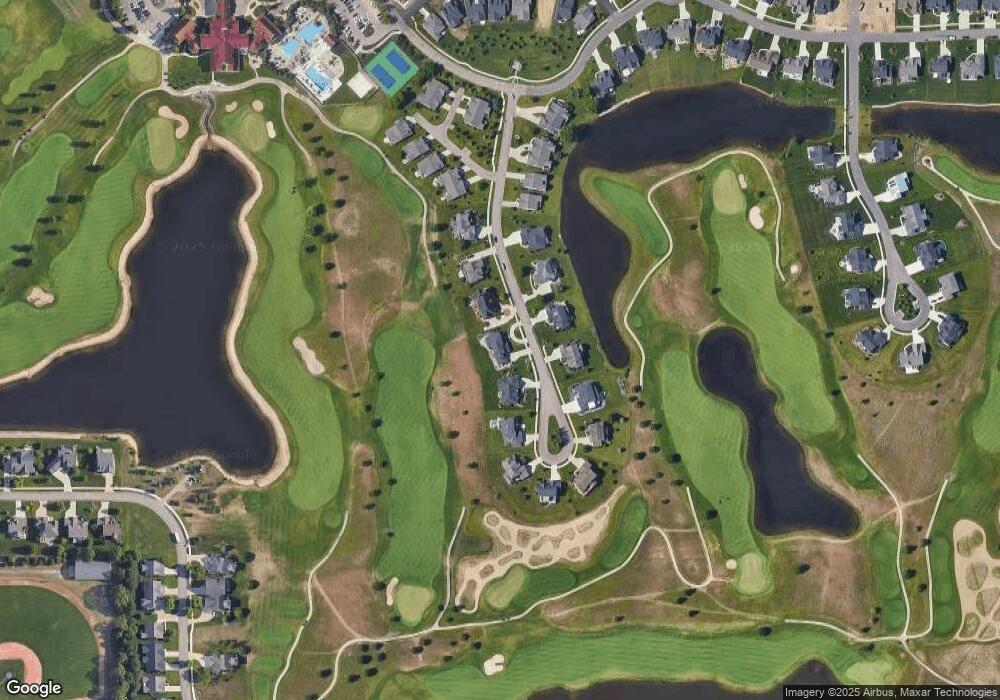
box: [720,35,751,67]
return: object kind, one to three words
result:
house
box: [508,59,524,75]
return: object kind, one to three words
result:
gazebo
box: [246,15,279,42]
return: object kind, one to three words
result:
building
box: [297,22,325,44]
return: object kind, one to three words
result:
swimming pool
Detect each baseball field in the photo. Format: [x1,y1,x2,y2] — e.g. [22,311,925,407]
[0,577,100,700]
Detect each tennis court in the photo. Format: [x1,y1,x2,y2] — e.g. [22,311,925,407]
[387,49,410,74]
[371,64,396,89]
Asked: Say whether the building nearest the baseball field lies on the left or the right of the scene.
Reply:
left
